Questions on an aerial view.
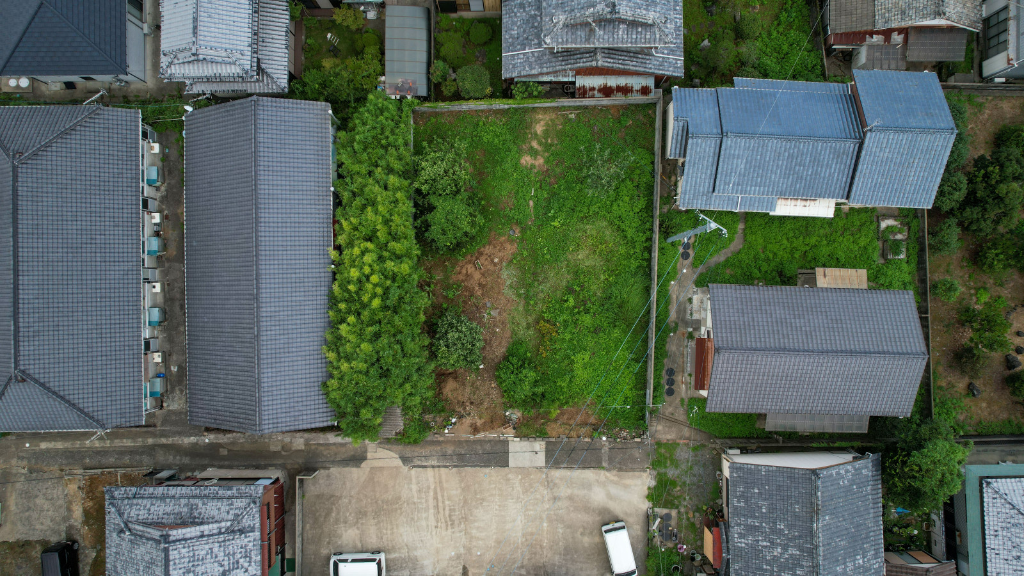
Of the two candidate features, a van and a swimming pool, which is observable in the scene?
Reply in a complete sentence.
Visible in the photo is a van.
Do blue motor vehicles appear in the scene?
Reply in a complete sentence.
No, there isn't any blue motor vehicle down there.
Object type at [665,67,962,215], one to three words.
house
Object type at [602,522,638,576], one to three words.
van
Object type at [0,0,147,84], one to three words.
house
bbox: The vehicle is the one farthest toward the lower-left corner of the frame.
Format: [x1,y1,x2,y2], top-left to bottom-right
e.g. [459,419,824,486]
[41,536,83,576]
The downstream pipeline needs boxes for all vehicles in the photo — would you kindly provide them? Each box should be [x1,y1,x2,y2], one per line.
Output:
[41,536,83,576]
[330,554,387,576]
[602,522,638,576]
